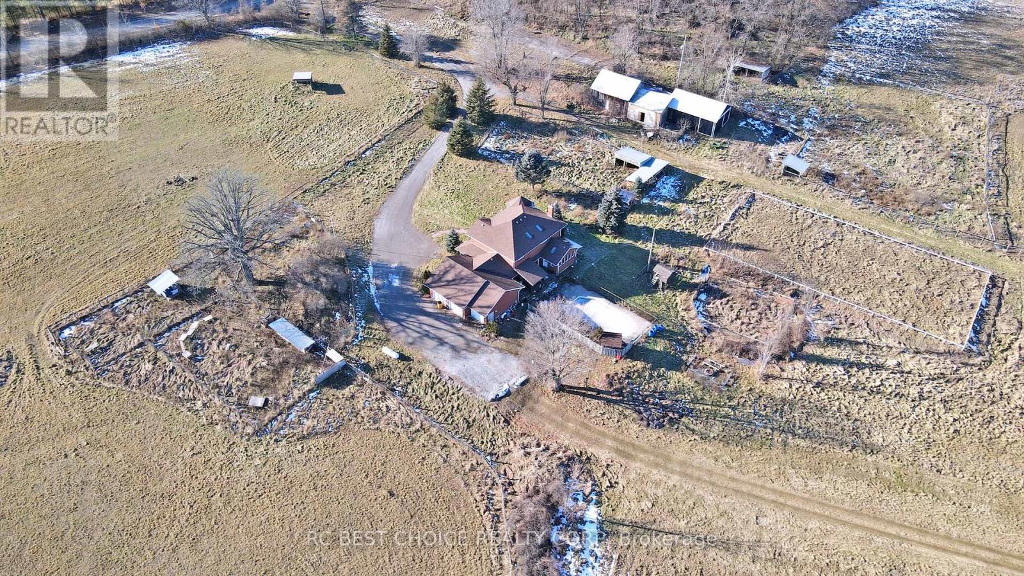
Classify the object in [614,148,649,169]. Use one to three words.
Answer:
shed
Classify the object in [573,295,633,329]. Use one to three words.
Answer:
swimming pool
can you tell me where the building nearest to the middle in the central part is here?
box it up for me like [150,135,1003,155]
[423,195,585,325]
